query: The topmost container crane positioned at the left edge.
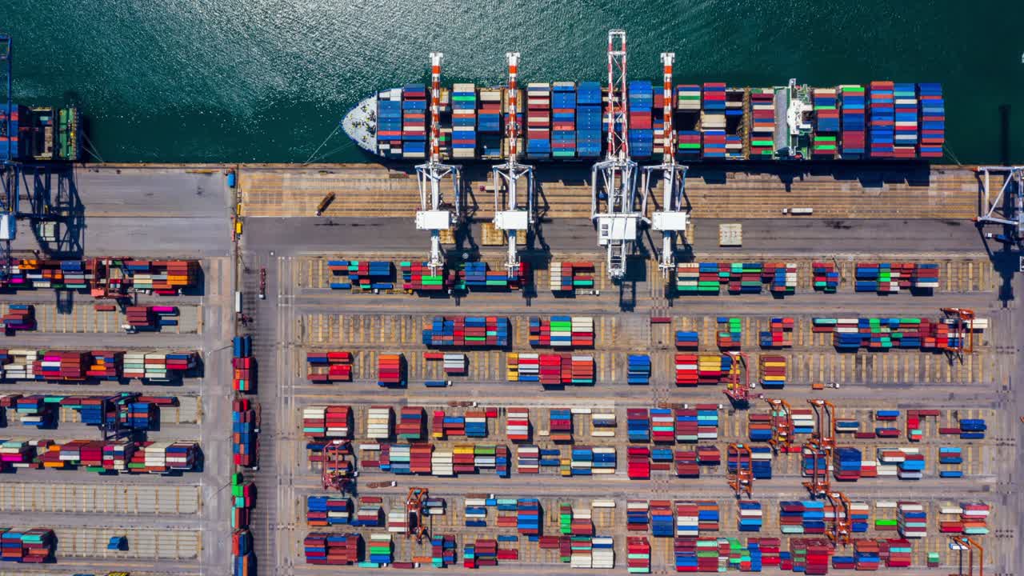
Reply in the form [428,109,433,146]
[0,34,77,275]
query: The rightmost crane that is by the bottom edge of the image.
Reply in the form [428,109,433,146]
[945,529,984,576]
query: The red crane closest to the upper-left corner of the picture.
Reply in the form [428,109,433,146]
[86,258,134,298]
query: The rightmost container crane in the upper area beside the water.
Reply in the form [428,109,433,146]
[968,163,1024,219]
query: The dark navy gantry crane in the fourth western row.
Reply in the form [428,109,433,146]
[104,388,144,439]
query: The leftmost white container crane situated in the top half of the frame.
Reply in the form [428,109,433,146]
[415,52,467,279]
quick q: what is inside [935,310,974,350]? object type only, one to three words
container crane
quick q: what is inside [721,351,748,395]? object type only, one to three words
container crane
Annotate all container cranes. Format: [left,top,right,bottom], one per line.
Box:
[406,479,428,534]
[761,398,791,445]
[804,397,836,448]
[576,30,642,282]
[945,529,984,576]
[797,438,829,492]
[488,52,537,279]
[323,436,349,486]
[628,52,689,279]
[104,388,144,439]
[935,310,974,350]
[415,52,467,279]
[968,163,1024,219]
[724,438,753,490]
[86,258,134,298]
[0,34,77,275]
[721,351,748,395]
[823,484,850,541]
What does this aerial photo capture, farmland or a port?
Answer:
port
